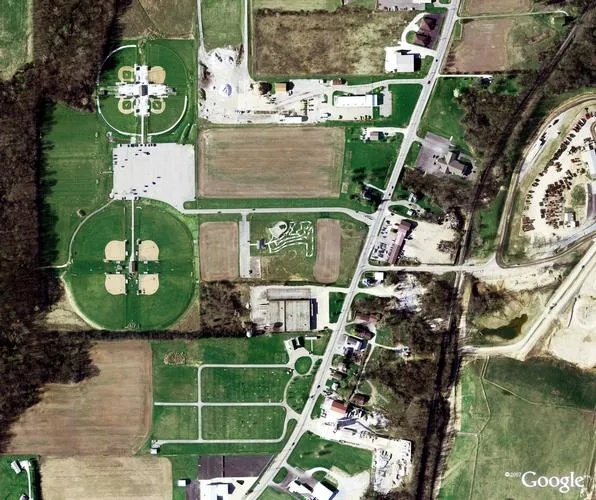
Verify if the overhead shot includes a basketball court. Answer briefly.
No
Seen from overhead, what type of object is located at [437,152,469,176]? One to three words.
building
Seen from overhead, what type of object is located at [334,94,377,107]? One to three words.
building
